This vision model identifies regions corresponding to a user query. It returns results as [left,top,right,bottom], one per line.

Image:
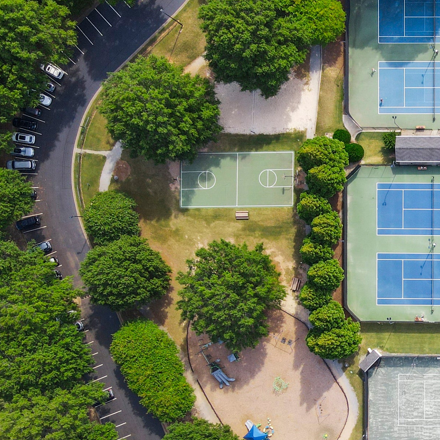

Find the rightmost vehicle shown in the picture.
[90,390,114,405]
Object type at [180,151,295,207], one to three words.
basketball court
